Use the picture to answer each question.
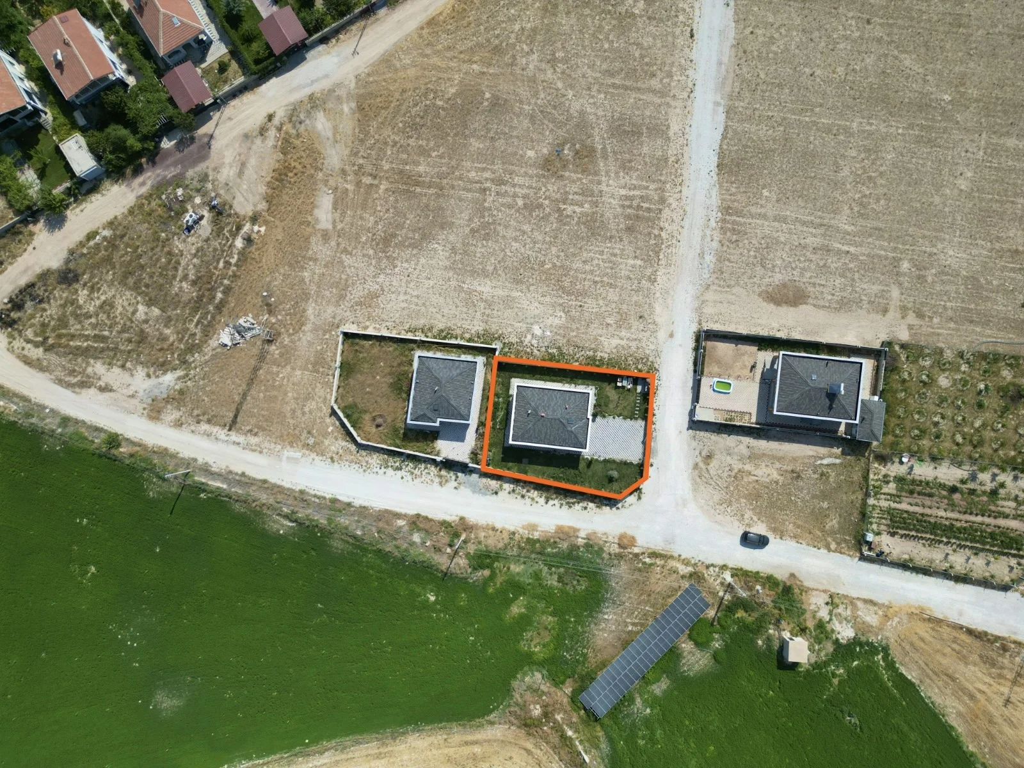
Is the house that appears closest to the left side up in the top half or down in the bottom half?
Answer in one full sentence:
The house that appears closest to the left side sits in the top half of the picture.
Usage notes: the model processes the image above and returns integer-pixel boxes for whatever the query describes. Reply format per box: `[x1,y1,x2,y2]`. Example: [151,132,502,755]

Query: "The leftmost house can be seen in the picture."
[0,44,43,137]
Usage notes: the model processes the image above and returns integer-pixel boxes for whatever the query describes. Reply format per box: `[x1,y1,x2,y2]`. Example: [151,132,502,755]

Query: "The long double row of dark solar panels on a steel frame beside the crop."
[579,583,712,719]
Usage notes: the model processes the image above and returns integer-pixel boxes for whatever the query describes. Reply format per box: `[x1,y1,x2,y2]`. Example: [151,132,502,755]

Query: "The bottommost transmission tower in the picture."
[224,329,276,343]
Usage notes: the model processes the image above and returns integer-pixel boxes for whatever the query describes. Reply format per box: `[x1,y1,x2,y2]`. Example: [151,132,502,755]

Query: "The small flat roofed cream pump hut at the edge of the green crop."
[783,636,813,663]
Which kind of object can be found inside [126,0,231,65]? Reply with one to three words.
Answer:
house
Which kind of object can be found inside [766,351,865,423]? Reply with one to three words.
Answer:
house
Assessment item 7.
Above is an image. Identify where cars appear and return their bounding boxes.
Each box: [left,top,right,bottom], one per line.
[740,533,769,550]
